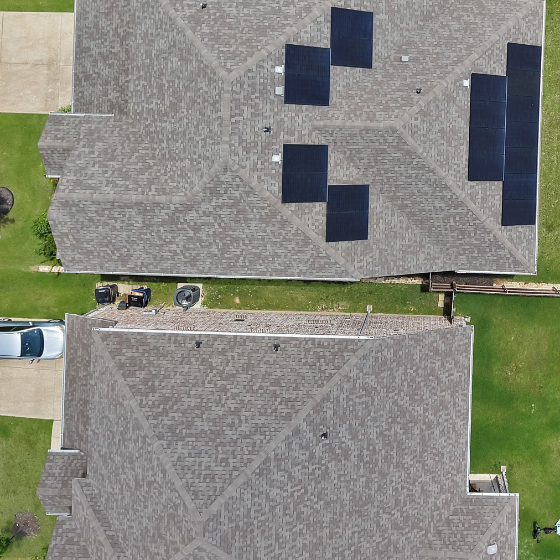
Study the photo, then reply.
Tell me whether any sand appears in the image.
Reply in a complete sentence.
No, sand can't be seen anywhere here.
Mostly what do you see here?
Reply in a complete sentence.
The largest share of the image is taken up by buildings.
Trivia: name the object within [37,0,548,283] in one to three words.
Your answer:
house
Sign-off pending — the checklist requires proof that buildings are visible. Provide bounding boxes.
[37,301,522,560]
[37,0,548,283]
